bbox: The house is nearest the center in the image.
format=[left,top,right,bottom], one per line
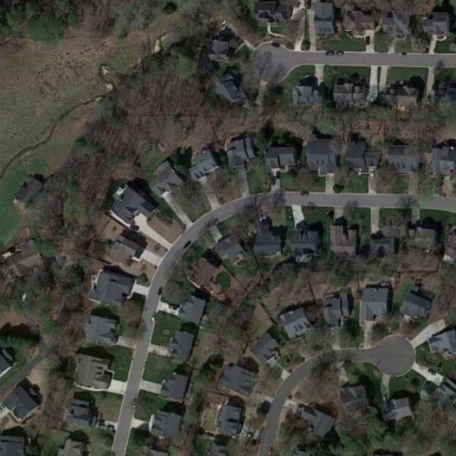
[213,235,247,266]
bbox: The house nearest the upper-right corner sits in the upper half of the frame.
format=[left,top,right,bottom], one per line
[424,7,451,34]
